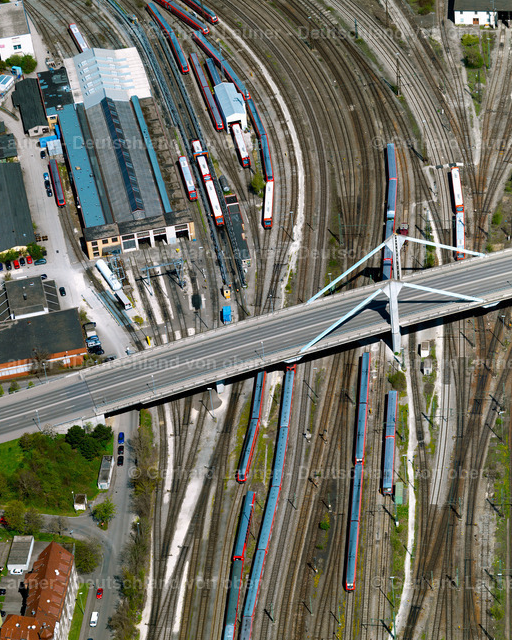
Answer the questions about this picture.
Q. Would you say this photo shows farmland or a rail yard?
rail yard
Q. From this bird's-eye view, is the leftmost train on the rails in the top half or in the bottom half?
top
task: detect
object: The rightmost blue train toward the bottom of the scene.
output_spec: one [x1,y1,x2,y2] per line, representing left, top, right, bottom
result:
[383,389,396,500]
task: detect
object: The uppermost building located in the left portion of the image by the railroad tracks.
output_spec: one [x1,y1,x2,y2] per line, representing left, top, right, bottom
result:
[0,0,33,60]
